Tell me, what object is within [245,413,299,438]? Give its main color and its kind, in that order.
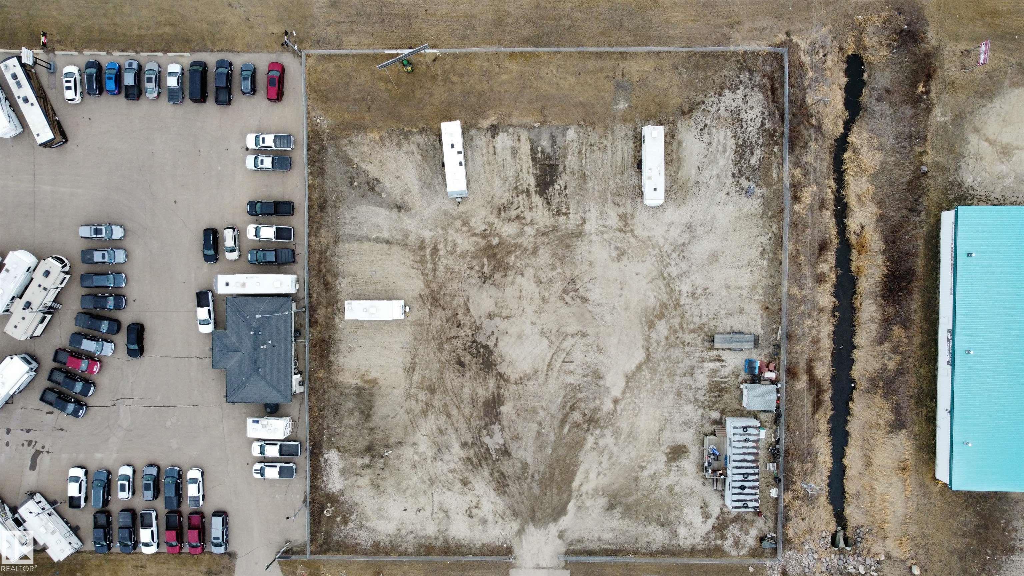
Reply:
white camper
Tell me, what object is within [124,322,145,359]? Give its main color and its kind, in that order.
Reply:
black car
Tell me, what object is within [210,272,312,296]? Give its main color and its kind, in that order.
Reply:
white trailer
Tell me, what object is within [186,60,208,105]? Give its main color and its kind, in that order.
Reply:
black vehicle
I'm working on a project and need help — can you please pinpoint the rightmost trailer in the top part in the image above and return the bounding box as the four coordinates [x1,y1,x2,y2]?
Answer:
[634,125,664,210]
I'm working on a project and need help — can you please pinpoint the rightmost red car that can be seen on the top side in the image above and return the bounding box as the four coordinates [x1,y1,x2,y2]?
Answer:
[266,61,285,104]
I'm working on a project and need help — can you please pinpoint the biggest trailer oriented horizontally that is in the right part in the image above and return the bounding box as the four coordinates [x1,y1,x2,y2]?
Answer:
[702,332,758,351]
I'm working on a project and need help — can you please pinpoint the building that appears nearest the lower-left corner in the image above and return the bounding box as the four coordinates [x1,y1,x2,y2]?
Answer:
[212,296,293,404]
